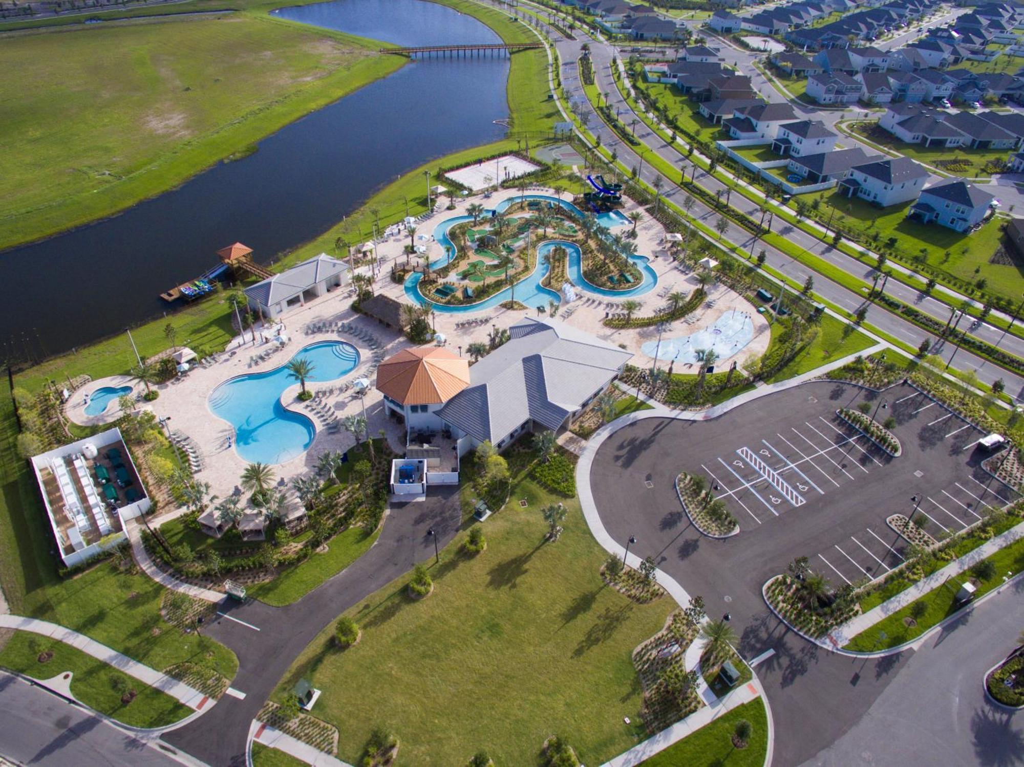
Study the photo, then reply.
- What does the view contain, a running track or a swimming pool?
swimming pool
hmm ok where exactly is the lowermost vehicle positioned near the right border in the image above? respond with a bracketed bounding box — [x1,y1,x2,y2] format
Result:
[978,430,1011,454]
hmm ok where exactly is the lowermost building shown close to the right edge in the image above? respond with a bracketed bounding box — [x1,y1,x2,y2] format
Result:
[988,215,1024,255]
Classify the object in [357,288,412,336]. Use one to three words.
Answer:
shed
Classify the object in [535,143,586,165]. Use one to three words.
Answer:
basketball court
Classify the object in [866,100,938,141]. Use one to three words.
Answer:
house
